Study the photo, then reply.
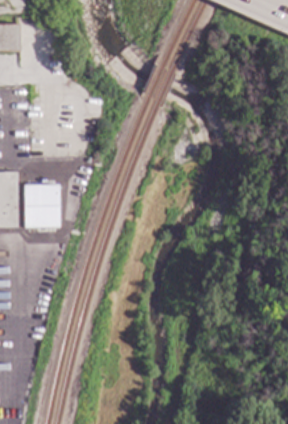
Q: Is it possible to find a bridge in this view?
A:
Yes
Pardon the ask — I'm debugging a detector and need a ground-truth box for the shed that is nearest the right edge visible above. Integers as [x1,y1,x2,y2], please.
[23,184,61,233]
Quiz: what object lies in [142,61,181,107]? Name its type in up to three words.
bridge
